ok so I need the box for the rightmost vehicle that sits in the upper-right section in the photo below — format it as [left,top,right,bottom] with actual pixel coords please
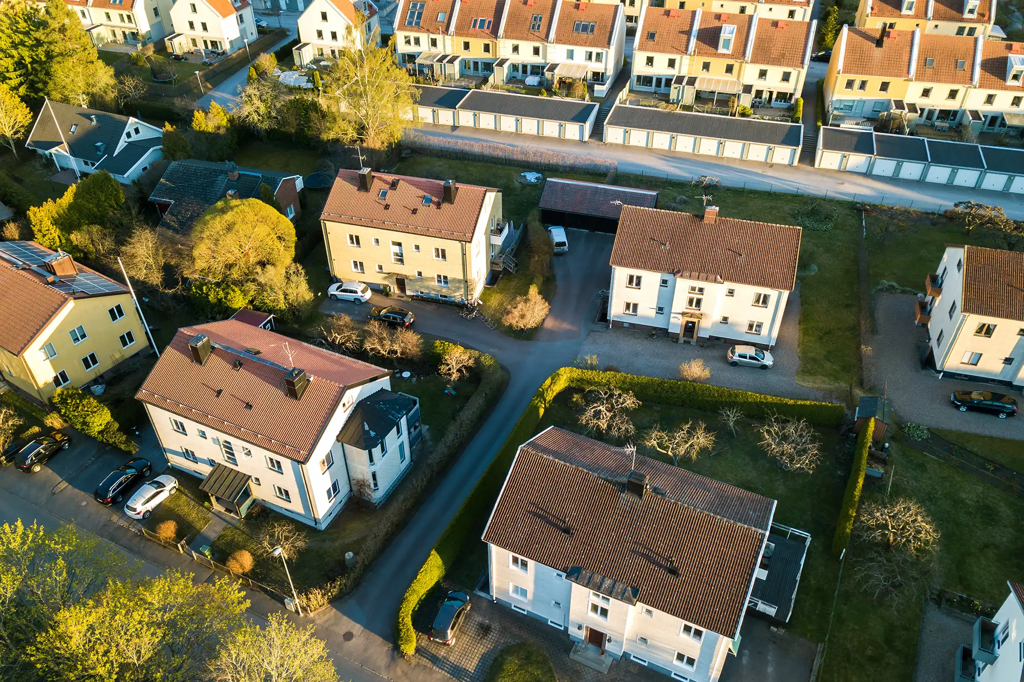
[816,48,835,62]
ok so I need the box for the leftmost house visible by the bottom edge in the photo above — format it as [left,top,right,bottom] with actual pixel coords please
[471,426,777,682]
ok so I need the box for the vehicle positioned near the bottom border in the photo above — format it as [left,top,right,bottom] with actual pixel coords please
[428,591,474,651]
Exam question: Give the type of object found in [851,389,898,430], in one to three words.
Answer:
shed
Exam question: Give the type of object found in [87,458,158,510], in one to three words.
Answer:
car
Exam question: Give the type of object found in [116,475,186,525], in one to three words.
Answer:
car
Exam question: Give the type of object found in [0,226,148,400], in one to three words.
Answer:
house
